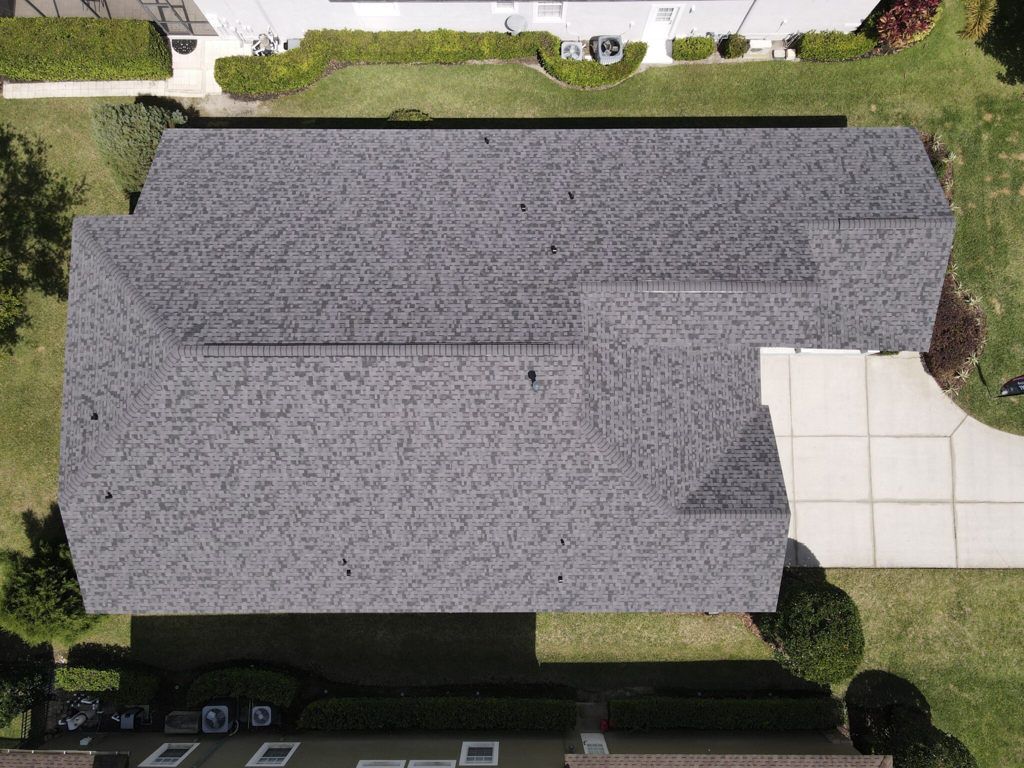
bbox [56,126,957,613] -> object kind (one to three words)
house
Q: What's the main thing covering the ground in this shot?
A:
buildings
